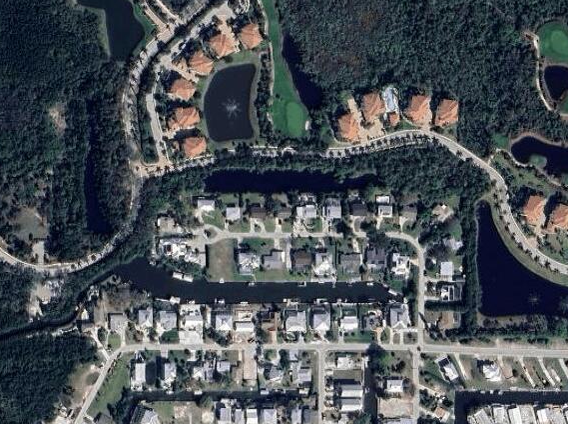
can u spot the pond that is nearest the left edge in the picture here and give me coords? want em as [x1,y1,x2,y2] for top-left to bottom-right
[78,0,143,60]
